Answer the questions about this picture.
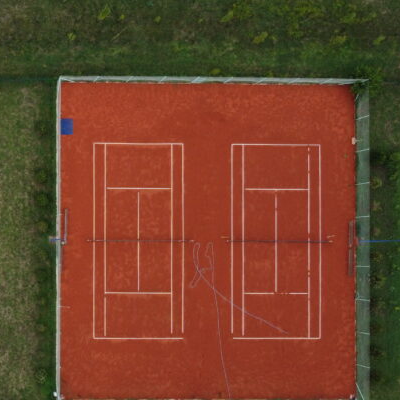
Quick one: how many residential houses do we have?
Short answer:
none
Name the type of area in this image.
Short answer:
sports ground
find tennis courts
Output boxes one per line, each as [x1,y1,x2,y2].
[57,82,208,400]
[208,82,357,400]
